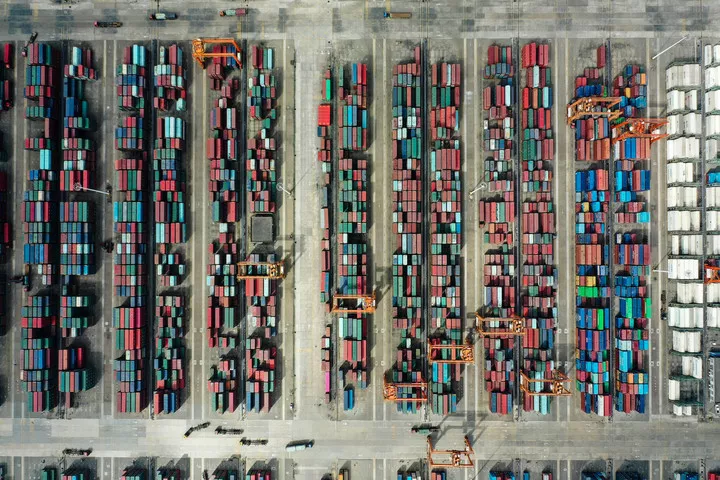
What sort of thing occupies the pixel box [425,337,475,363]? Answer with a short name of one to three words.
container crane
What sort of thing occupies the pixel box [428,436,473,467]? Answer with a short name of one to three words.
container crane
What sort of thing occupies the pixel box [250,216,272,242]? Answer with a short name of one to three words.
shed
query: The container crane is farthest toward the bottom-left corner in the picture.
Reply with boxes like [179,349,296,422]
[238,260,288,279]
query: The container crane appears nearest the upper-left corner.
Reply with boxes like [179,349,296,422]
[192,39,241,70]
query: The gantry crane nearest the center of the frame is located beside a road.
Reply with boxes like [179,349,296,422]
[333,290,377,313]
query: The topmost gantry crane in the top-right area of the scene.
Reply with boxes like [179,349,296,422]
[569,97,622,125]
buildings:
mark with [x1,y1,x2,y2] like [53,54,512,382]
[713,359,720,403]
[250,216,272,242]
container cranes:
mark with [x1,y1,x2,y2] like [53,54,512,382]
[333,290,377,313]
[475,312,526,335]
[519,369,571,396]
[569,97,622,125]
[425,337,475,363]
[428,436,473,467]
[238,260,288,279]
[612,119,668,145]
[383,373,428,402]
[192,39,241,70]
